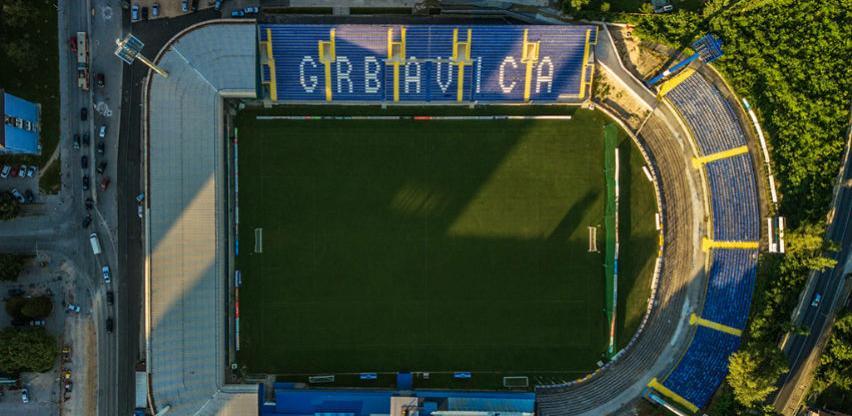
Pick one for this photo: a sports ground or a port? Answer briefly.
sports ground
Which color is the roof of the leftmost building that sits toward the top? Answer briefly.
blue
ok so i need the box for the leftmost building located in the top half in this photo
[0,88,42,155]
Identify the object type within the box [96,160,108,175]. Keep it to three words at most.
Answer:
vehicle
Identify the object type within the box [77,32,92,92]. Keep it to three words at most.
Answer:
vehicle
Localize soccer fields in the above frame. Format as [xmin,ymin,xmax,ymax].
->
[238,101,662,391]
